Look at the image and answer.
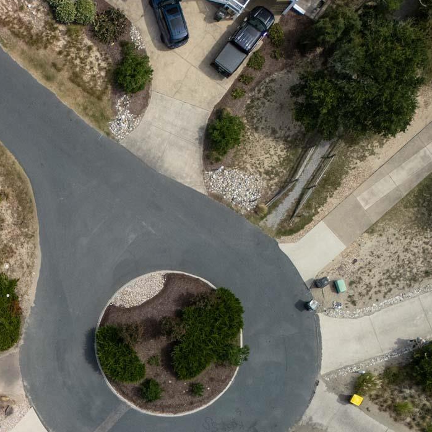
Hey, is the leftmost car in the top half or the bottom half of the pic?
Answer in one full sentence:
Seen from above, the leftmost car lies in the top half of the view.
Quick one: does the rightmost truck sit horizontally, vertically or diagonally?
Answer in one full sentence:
The rightmost truck runs diagonally in the image.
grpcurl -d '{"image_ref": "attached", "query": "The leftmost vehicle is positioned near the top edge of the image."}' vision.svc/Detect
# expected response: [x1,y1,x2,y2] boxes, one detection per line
[149,0,188,53]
